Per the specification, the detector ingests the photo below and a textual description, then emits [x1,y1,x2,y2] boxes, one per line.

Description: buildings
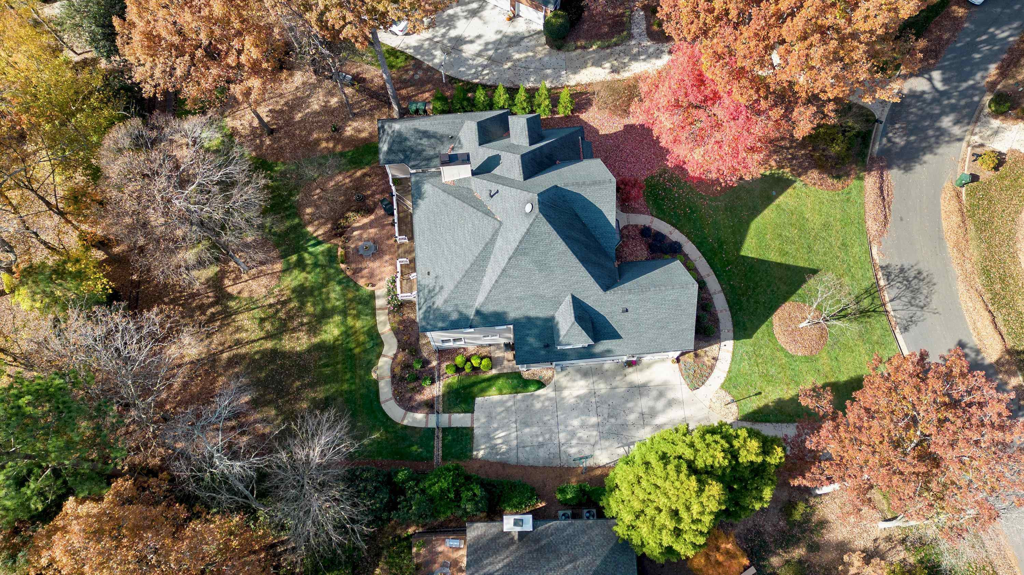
[463,515,640,575]
[490,0,563,24]
[378,109,699,377]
